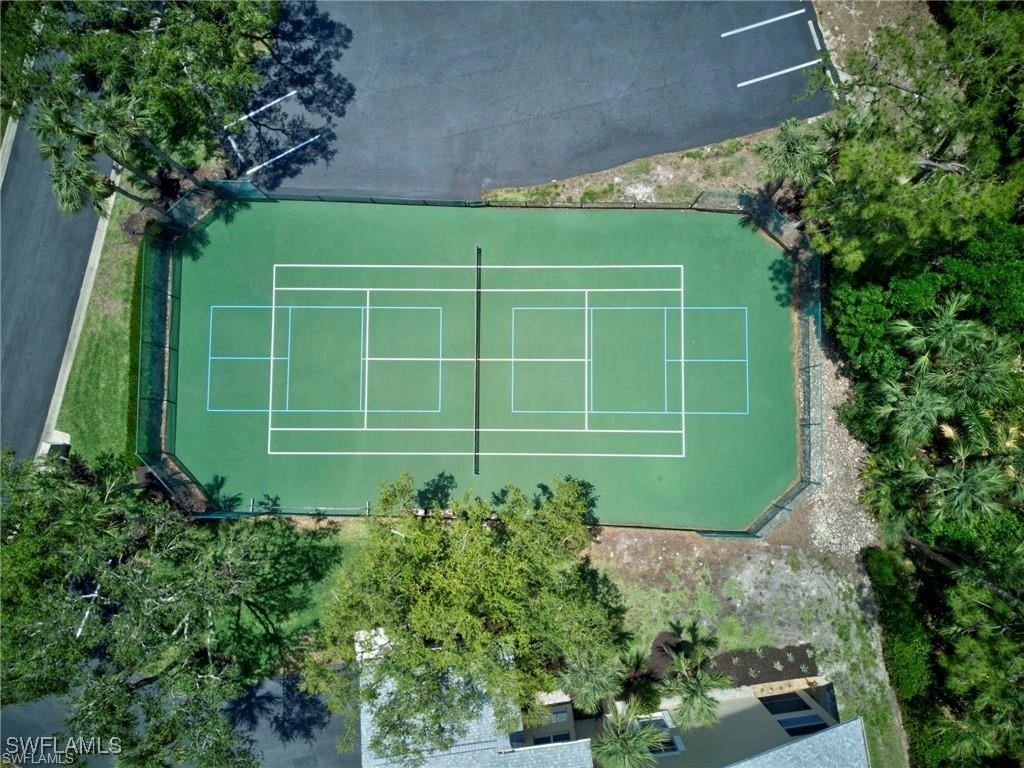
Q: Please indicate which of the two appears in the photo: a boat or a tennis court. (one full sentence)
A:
Visible in the photo is a tennis court.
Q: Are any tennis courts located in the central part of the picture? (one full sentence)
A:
Yes, in the central part of the picture there is a tennis court.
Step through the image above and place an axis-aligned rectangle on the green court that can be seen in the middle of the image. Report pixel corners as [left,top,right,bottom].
[165,201,799,530]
